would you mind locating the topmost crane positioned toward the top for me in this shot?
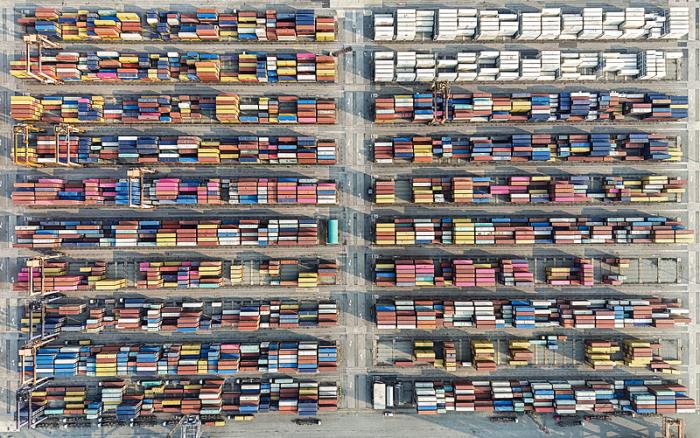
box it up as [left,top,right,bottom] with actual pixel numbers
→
[21,27,66,85]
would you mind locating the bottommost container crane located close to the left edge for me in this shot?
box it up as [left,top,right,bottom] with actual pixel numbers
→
[14,377,55,428]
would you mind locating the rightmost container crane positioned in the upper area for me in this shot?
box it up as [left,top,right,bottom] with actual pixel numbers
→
[423,73,449,126]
